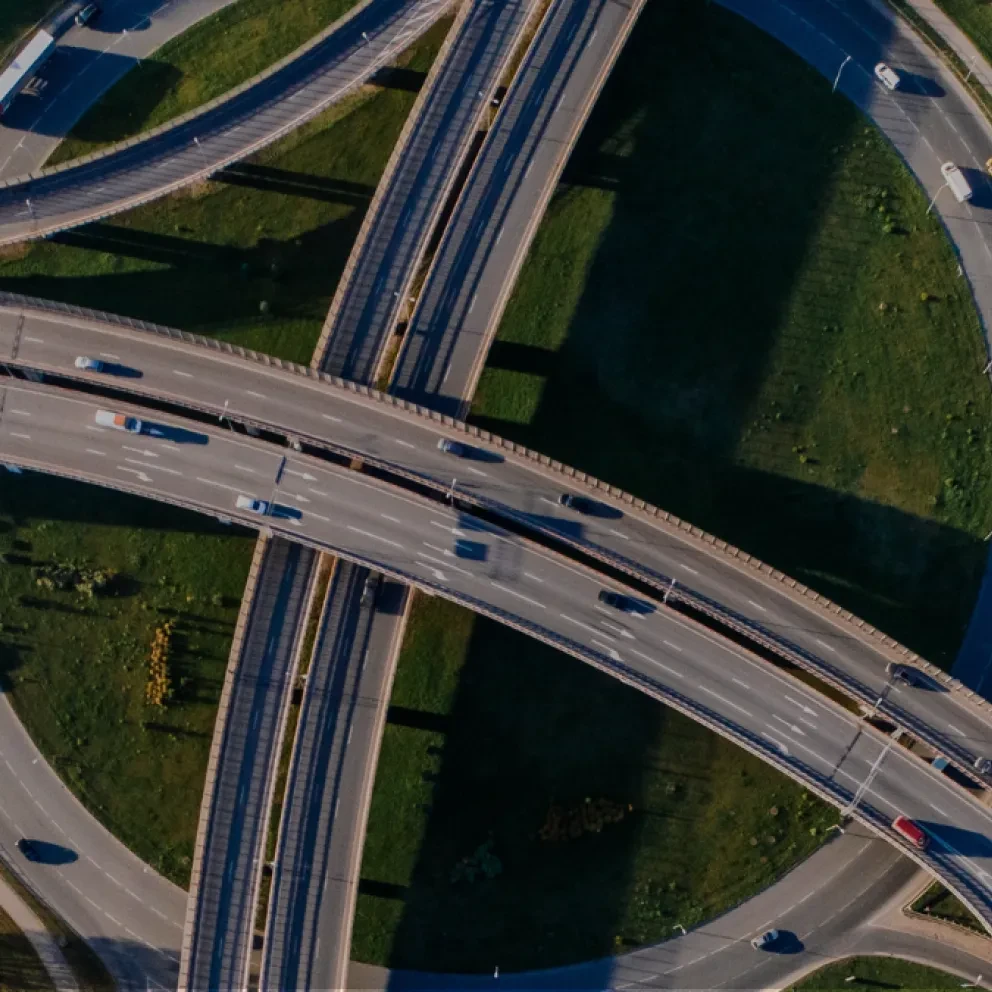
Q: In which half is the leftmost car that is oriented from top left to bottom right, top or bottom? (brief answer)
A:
bottom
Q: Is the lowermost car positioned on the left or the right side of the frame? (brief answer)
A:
right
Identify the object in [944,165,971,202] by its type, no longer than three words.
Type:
vehicle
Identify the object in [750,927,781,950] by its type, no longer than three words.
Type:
car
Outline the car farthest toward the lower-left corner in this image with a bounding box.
[14,838,41,864]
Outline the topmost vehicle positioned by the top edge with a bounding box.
[74,3,100,27]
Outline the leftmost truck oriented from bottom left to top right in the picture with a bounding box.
[0,30,56,108]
